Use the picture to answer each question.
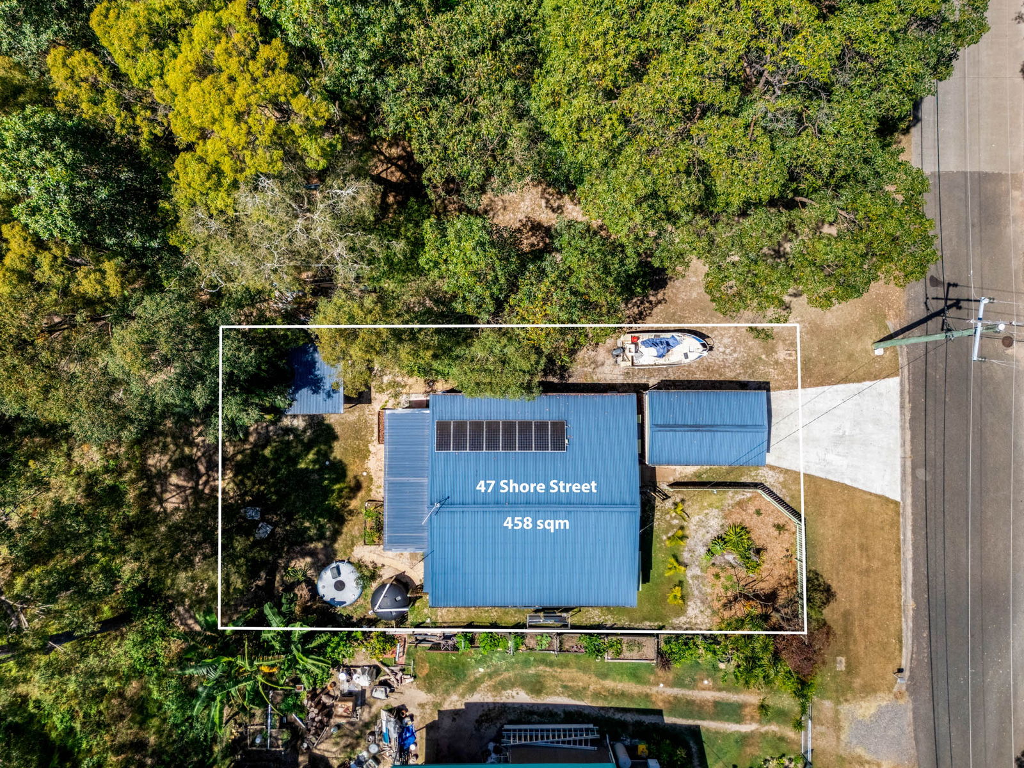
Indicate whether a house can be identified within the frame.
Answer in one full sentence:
Yes, I can see a house in this picture.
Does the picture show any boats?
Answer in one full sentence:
Yes, there's a boat here.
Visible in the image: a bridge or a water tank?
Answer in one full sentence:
Visible in the photo is a water tank.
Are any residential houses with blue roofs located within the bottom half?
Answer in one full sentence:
Yes, you'll find a residential house with a blue roof within the bottom half.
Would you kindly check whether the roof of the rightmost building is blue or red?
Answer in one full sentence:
The color of the roof of the rightmost building is blue.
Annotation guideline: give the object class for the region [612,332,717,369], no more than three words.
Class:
boat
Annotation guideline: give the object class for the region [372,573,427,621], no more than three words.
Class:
water tank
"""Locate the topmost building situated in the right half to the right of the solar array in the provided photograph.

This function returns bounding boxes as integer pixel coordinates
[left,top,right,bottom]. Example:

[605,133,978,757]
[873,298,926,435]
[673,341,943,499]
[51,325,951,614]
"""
[640,385,771,468]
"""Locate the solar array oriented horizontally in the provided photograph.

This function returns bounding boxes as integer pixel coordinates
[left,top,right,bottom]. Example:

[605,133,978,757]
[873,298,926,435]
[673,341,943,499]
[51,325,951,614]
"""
[434,421,569,451]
